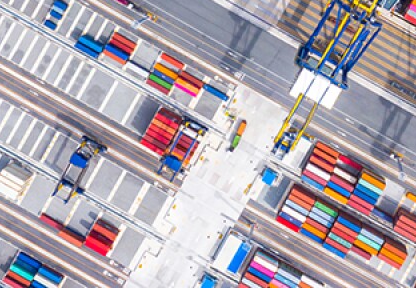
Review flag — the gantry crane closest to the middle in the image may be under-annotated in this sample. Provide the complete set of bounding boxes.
[156,117,207,184]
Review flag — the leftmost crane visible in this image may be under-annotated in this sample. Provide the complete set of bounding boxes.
[49,137,107,204]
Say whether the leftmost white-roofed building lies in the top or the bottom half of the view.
bottom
